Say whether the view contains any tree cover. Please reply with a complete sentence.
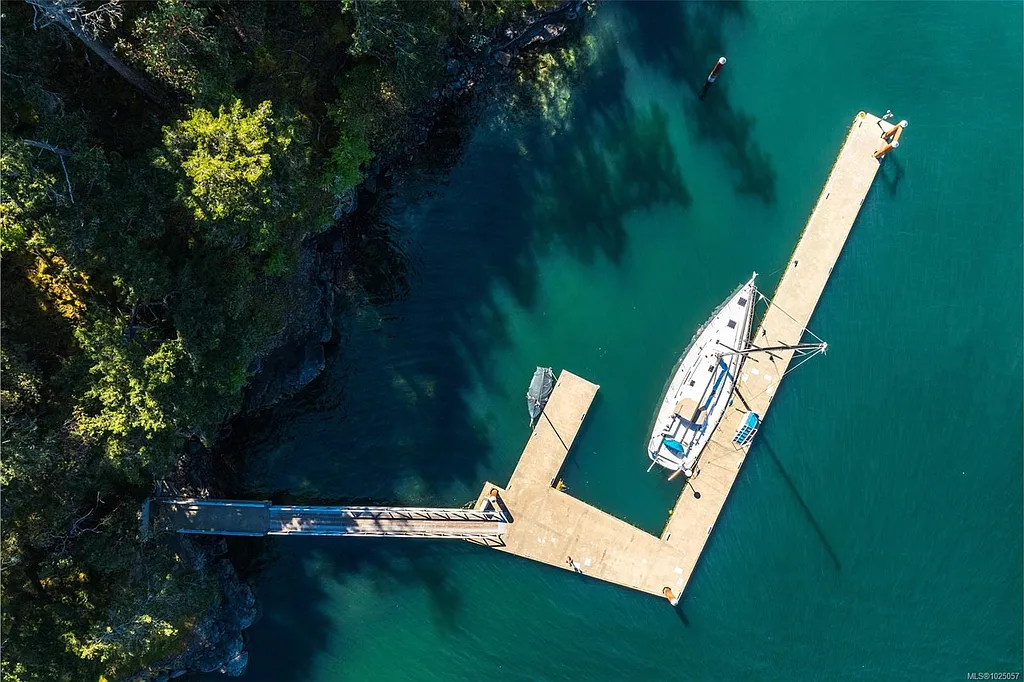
Yes, some tree cover is visible.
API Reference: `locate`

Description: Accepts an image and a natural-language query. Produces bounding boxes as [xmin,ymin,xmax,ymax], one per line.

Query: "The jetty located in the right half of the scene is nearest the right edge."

[470,112,894,603]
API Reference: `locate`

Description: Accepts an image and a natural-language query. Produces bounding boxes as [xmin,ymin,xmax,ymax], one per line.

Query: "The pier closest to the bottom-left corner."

[149,494,284,538]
